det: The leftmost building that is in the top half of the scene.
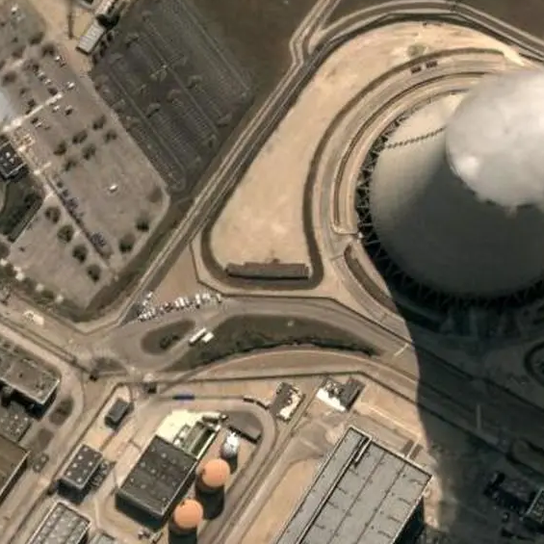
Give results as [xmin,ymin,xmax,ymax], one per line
[0,142,24,178]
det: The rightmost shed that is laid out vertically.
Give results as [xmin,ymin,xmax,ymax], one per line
[526,488,544,526]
